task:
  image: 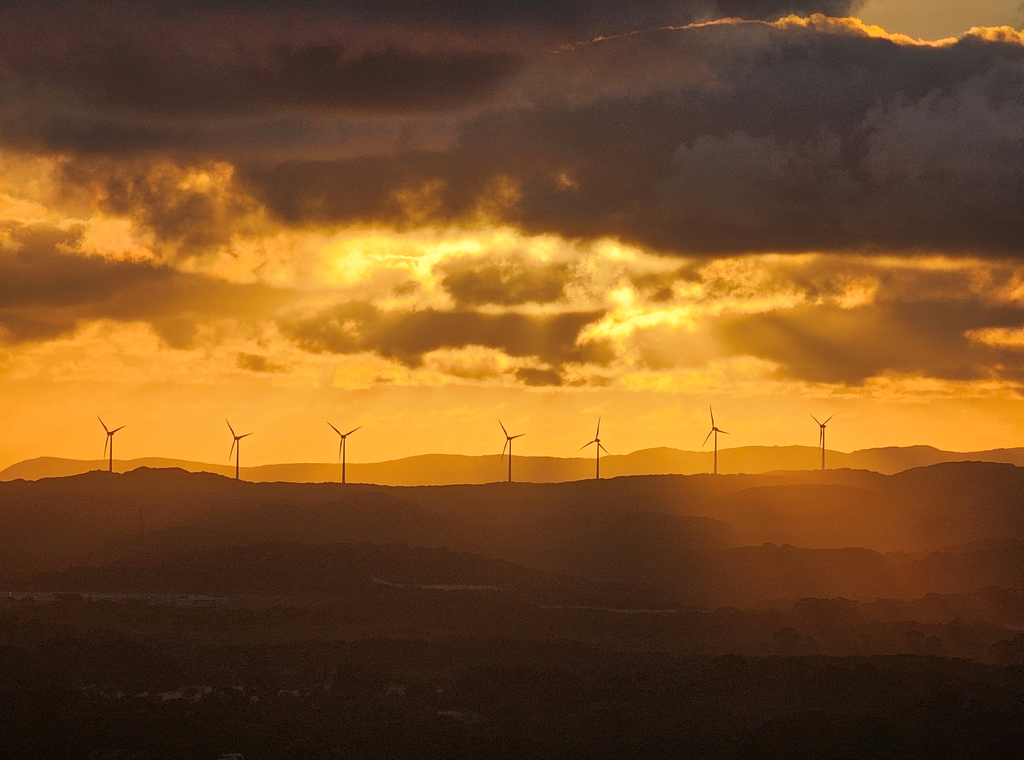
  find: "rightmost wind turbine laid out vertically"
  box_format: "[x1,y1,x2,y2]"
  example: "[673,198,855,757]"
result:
[810,414,831,468]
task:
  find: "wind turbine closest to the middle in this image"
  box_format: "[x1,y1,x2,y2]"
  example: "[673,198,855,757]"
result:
[498,420,524,482]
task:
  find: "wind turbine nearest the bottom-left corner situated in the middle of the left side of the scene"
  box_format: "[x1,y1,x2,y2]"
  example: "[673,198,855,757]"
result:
[98,417,125,472]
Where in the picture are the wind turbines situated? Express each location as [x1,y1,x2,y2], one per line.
[327,421,361,484]
[225,419,252,480]
[498,420,524,482]
[810,414,831,468]
[581,420,609,478]
[98,417,125,472]
[702,406,730,473]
